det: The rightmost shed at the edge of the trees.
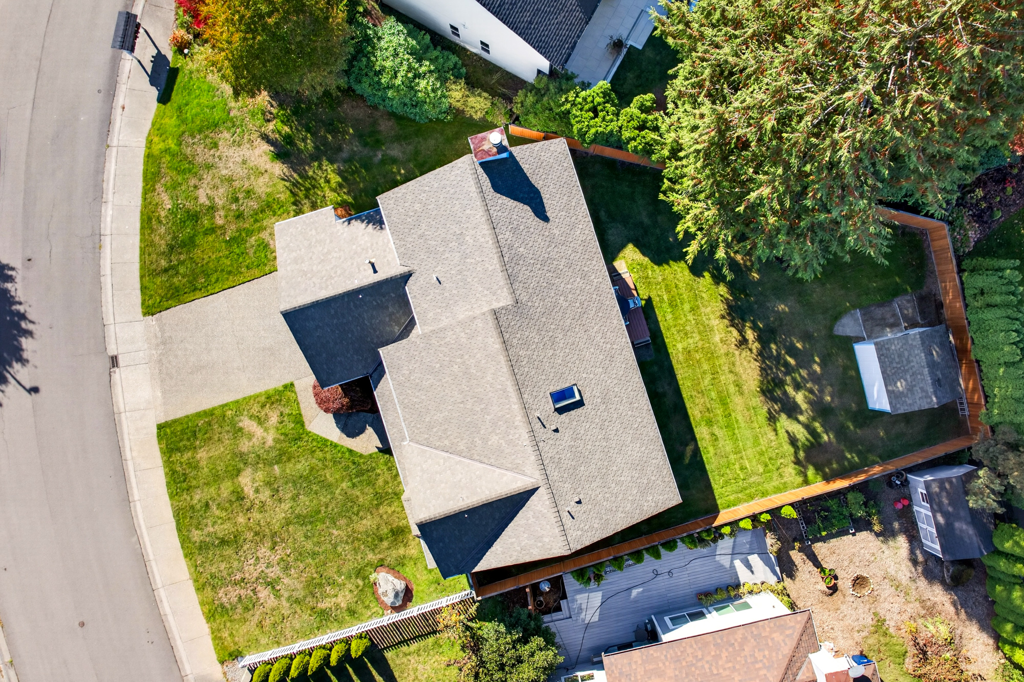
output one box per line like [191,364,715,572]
[909,464,1005,563]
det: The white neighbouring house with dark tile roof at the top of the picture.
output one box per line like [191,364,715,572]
[380,0,599,92]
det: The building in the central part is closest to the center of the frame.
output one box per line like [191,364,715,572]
[274,125,684,581]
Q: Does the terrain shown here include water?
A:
No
